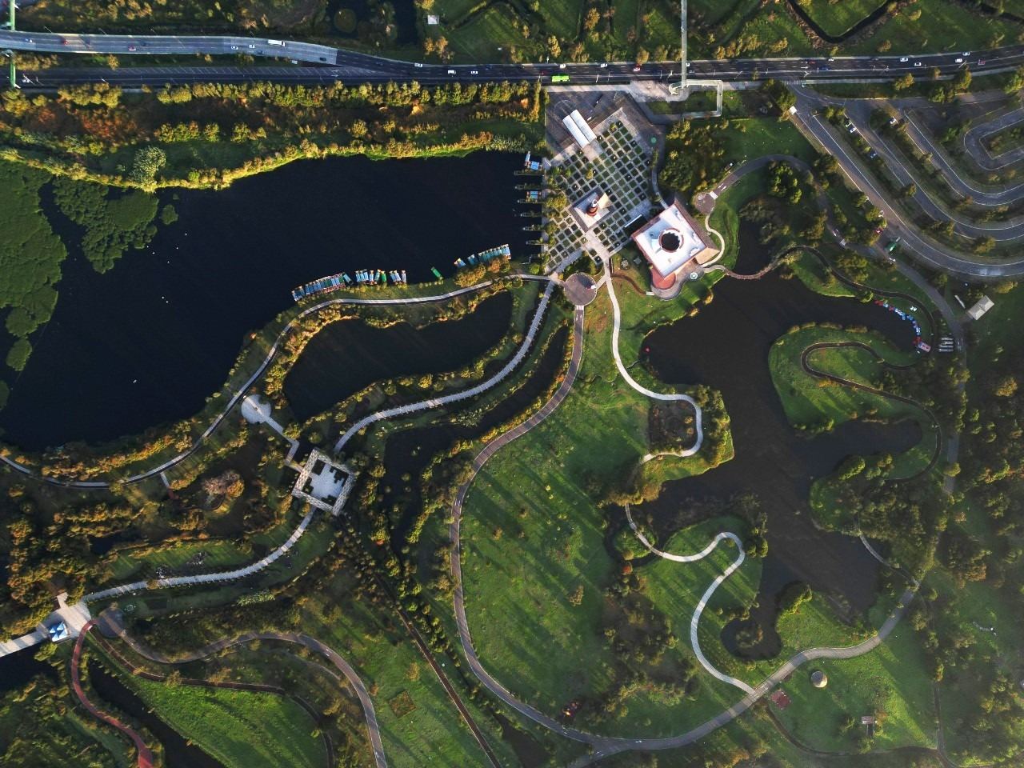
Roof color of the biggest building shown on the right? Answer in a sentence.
The roof over the biggest building shown on the right appears white.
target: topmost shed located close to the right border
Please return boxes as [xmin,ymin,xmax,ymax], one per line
[969,295,997,320]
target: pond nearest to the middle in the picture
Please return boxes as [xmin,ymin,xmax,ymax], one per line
[283,290,512,424]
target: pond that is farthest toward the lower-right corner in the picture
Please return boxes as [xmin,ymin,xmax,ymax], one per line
[484,705,553,768]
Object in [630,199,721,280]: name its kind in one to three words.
building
